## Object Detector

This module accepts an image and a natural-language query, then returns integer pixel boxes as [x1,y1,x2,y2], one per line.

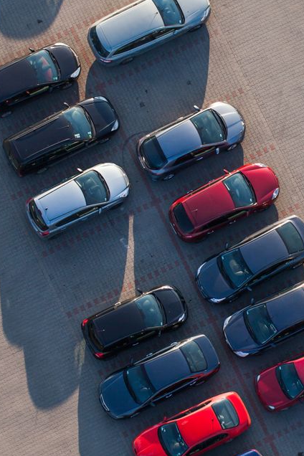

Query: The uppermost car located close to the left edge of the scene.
[0,43,82,116]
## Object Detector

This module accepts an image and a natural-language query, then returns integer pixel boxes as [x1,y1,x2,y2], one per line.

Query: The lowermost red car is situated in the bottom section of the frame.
[133,389,251,456]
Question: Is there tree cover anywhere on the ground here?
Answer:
No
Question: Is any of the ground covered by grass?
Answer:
No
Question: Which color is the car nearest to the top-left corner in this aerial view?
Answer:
black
